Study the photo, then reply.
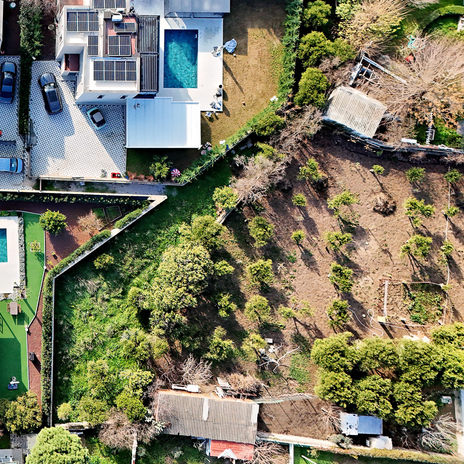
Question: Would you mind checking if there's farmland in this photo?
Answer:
Yes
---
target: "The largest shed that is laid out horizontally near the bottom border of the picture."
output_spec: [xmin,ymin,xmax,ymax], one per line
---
[154,390,259,445]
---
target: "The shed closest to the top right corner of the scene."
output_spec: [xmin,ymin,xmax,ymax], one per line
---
[315,83,389,137]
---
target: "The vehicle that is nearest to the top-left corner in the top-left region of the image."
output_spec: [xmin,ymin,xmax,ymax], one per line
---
[0,64,17,103]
